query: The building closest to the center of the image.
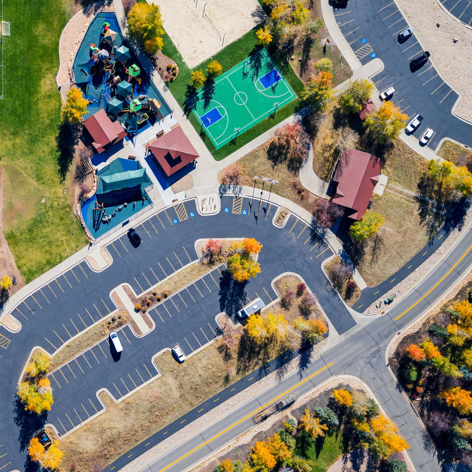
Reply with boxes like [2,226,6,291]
[148,127,199,177]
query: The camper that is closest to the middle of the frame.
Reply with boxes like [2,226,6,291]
[236,297,267,317]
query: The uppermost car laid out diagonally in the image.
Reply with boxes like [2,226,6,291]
[396,28,414,41]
